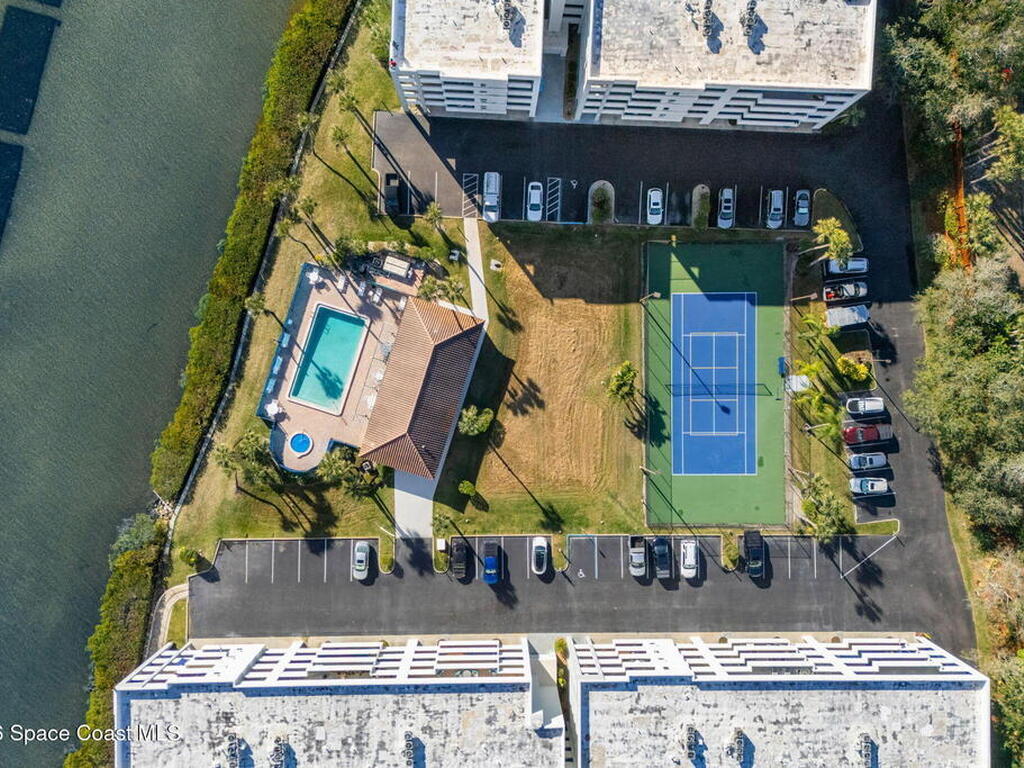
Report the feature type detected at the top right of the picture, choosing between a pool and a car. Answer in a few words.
car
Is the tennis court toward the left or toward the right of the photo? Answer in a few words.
right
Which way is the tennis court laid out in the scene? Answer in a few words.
from top to bottom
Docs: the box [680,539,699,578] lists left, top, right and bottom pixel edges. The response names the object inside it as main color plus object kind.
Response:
white car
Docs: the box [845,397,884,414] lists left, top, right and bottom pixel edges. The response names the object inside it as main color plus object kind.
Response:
white car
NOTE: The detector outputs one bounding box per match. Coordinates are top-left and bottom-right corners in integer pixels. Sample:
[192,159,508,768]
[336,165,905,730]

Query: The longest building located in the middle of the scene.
[359,297,487,479]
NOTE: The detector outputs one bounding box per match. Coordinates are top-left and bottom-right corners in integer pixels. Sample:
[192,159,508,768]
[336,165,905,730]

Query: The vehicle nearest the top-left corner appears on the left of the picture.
[381,171,400,216]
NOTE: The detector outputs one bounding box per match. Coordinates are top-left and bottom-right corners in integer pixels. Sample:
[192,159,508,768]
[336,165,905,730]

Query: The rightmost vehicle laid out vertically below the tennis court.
[743,530,764,579]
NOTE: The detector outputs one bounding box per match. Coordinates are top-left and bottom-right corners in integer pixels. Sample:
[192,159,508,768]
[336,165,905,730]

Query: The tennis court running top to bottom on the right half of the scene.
[647,241,784,525]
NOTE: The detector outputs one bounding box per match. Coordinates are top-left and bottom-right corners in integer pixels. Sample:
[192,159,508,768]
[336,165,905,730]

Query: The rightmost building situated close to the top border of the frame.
[574,0,877,131]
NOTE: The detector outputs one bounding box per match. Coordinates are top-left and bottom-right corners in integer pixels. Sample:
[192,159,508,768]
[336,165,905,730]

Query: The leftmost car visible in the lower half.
[352,541,370,580]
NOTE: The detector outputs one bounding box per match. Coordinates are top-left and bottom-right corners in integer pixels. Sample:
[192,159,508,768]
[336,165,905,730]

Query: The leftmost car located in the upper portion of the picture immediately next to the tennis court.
[646,189,664,225]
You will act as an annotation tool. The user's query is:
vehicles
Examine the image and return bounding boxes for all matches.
[823,282,868,300]
[848,453,887,471]
[827,258,868,274]
[680,539,699,578]
[766,189,786,229]
[629,535,647,578]
[843,425,893,444]
[653,537,672,580]
[531,536,549,575]
[646,189,664,225]
[792,190,811,227]
[743,530,764,579]
[352,541,370,580]
[824,305,869,328]
[482,171,501,221]
[381,171,400,216]
[717,188,736,229]
[451,540,468,579]
[526,182,544,222]
[849,477,889,495]
[845,397,884,414]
